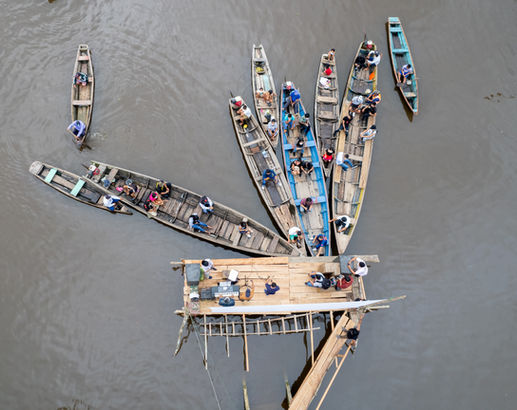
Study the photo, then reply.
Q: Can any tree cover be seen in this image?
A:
No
